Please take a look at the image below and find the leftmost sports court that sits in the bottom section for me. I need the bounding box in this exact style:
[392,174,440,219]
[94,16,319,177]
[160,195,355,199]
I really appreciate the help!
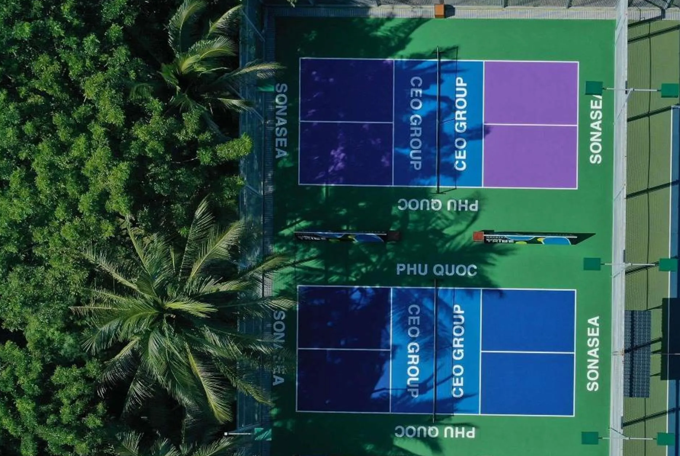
[274,263,600,438]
